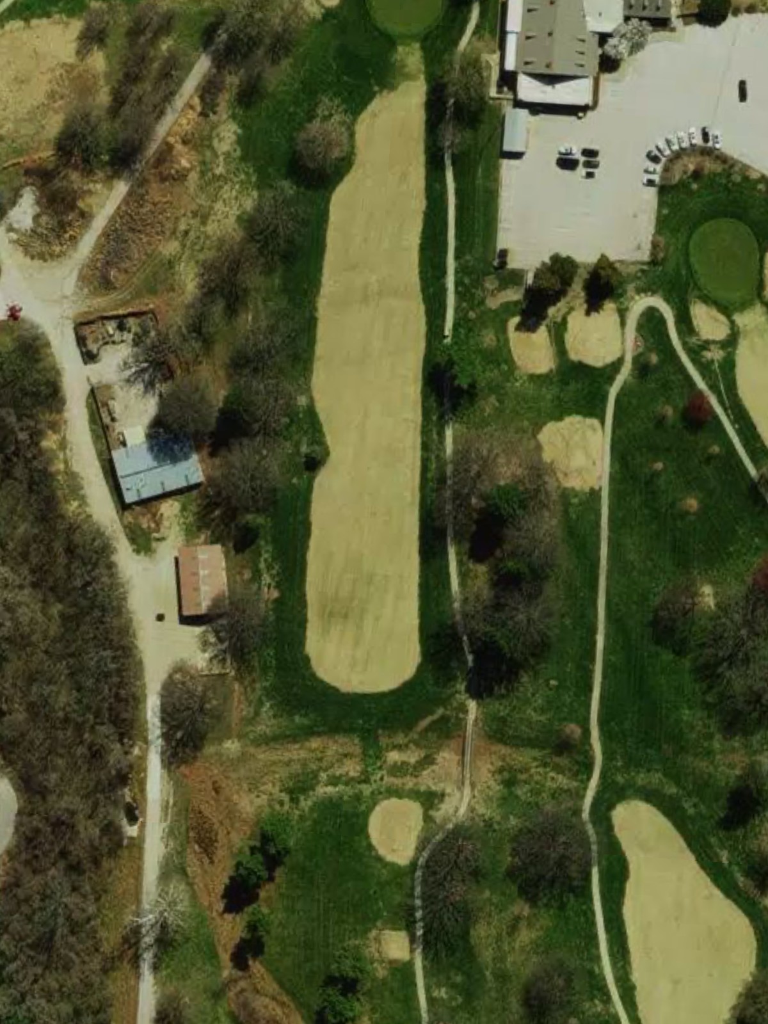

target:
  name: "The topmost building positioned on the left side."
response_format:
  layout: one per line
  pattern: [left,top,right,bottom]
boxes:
[112,423,204,503]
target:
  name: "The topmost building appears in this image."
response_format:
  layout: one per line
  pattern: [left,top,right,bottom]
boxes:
[504,0,671,106]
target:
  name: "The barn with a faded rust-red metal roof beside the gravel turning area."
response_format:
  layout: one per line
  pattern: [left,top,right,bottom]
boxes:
[179,545,227,615]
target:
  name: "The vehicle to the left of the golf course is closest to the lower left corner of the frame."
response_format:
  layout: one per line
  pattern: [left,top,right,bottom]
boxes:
[126,803,138,824]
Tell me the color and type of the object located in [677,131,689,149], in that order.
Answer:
white vehicle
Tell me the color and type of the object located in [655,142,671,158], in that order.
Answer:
white car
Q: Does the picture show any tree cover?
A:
Yes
